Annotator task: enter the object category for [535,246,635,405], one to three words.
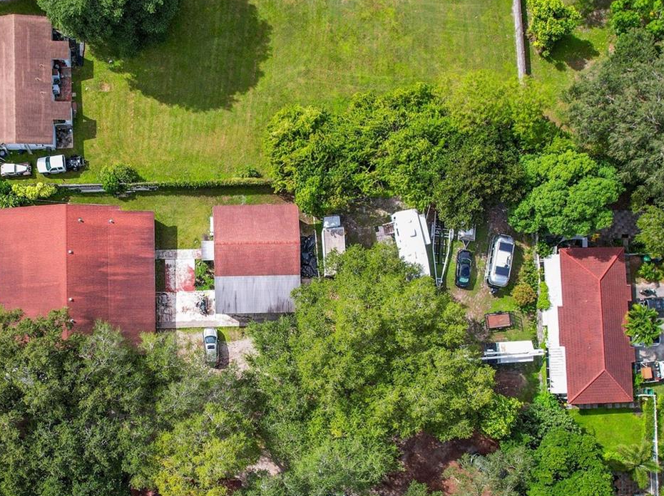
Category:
house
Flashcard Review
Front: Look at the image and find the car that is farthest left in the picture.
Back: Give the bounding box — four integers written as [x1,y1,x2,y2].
[0,163,30,179]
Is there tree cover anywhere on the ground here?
Yes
